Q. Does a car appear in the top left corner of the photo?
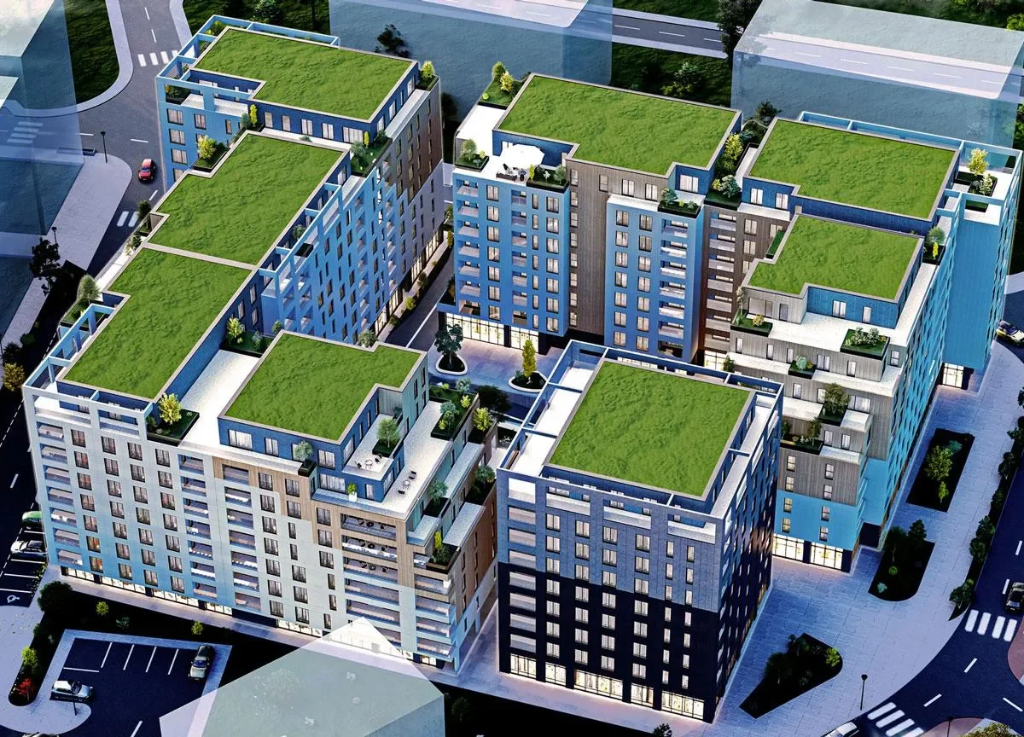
Yes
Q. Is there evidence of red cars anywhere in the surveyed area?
Yes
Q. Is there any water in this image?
No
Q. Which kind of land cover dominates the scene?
buildings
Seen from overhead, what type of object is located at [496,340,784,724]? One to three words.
building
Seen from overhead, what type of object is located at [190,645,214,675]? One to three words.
car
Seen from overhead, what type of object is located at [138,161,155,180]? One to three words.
car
